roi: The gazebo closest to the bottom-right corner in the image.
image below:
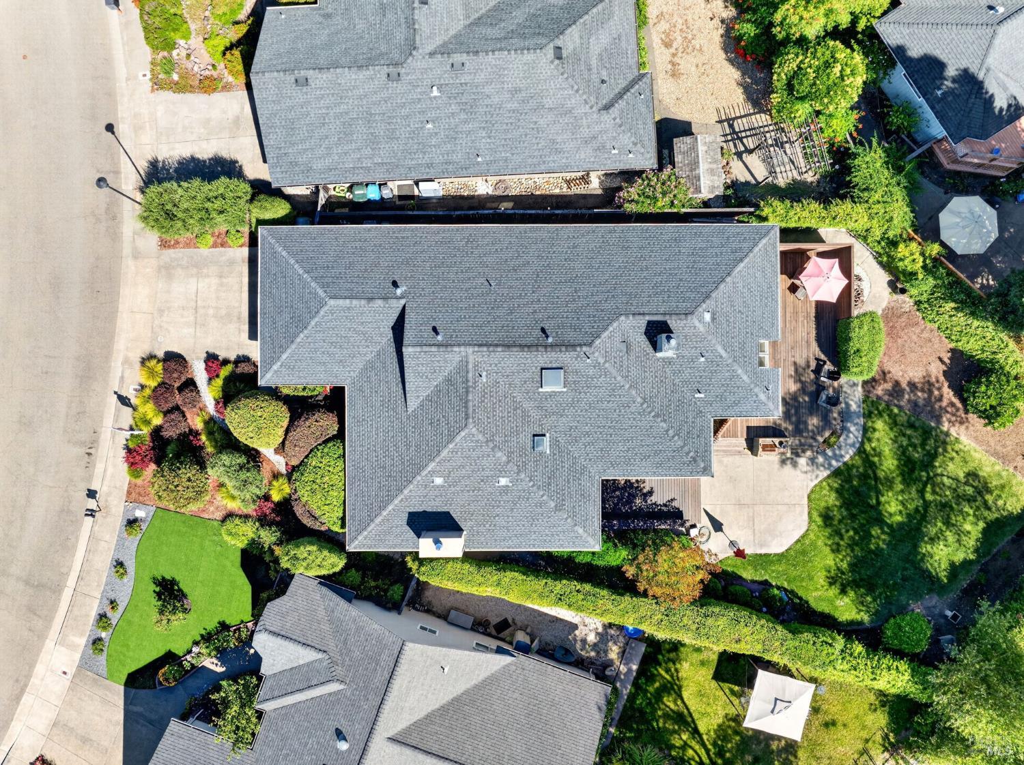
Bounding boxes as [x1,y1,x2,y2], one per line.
[728,660,814,741]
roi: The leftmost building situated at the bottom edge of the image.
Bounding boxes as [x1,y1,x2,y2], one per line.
[148,571,610,765]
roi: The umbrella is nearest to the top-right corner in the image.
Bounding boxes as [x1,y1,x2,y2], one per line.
[934,196,998,254]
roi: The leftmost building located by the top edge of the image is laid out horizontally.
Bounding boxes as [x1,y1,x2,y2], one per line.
[251,0,660,191]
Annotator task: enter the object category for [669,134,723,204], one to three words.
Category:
shed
